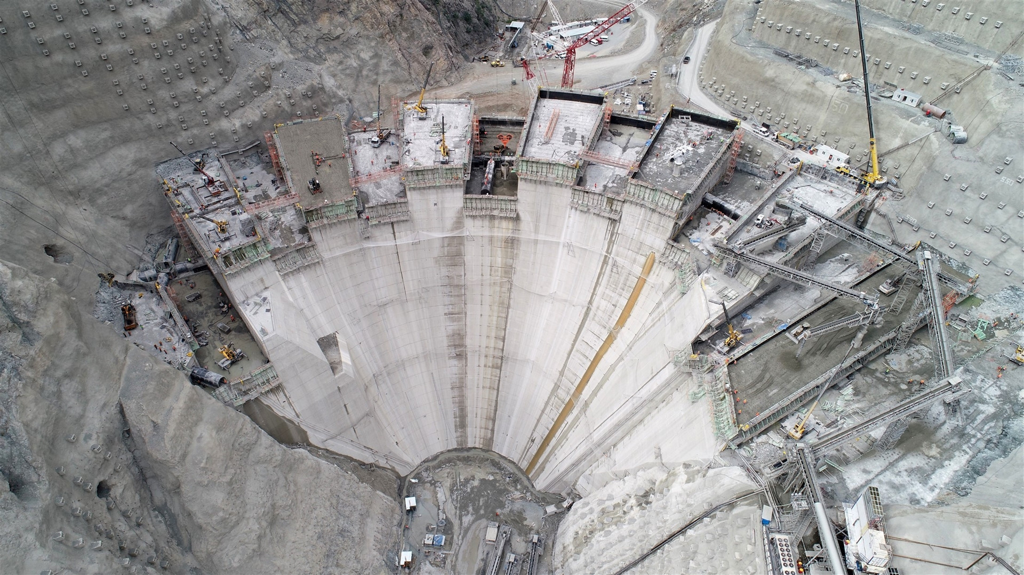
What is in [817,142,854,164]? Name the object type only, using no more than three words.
shed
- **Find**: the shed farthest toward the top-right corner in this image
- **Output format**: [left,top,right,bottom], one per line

[892,88,920,107]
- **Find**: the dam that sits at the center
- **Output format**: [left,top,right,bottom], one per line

[169,98,963,525]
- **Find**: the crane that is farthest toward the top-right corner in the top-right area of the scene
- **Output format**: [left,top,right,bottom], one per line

[838,0,895,189]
